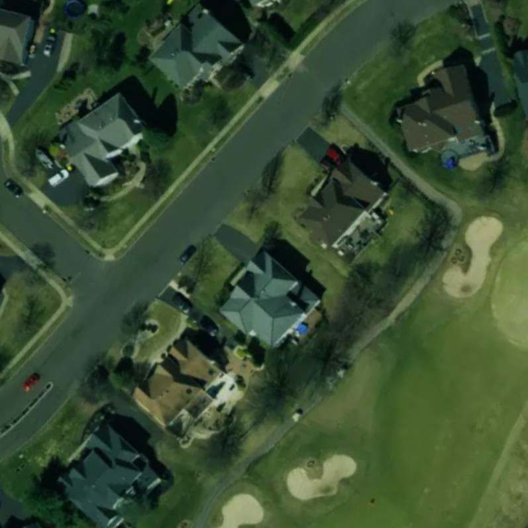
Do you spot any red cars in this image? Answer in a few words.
Yes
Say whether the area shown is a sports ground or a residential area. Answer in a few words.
residential area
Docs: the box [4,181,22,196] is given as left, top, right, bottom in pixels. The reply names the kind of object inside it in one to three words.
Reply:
car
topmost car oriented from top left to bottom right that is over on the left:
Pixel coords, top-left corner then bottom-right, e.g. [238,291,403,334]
[36,149,53,167]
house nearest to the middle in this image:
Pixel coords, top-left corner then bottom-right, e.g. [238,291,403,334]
[223,252,322,351]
